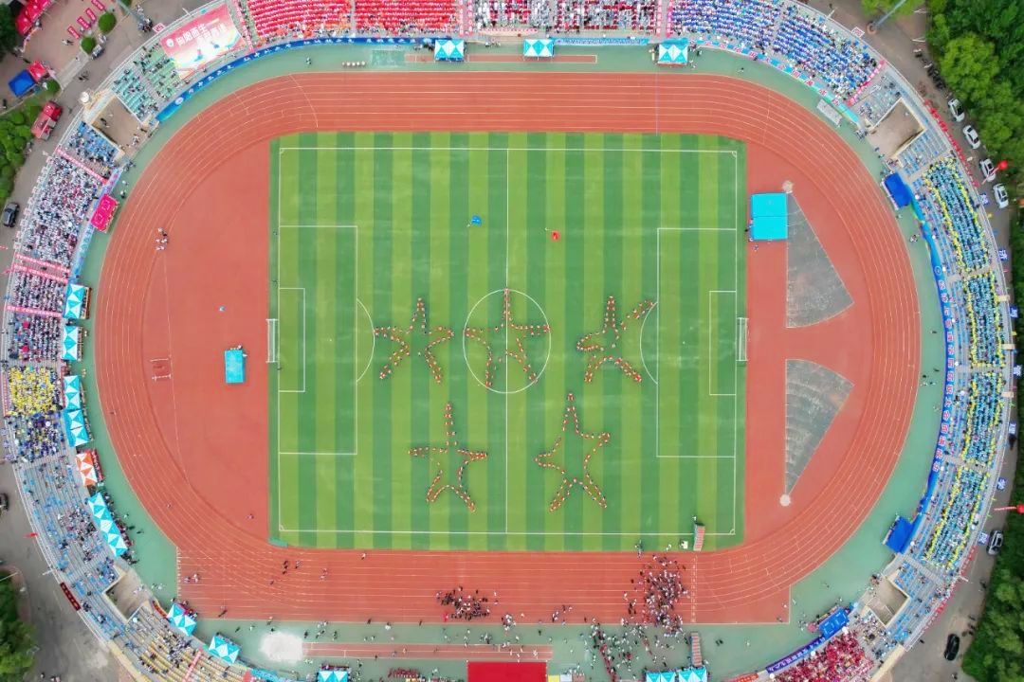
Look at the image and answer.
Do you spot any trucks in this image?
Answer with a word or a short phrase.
Yes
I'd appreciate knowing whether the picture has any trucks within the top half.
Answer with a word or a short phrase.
Yes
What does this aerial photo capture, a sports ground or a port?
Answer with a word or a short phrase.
sports ground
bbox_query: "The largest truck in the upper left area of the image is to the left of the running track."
[27,99,65,141]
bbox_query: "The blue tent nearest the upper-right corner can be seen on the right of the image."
[881,173,911,208]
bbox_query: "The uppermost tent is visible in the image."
[15,0,55,37]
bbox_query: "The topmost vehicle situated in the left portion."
[91,45,108,60]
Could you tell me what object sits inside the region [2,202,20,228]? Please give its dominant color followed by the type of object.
gray car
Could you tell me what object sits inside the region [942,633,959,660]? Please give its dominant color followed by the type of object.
black car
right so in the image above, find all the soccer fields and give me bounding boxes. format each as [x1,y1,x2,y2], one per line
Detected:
[271,131,746,550]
